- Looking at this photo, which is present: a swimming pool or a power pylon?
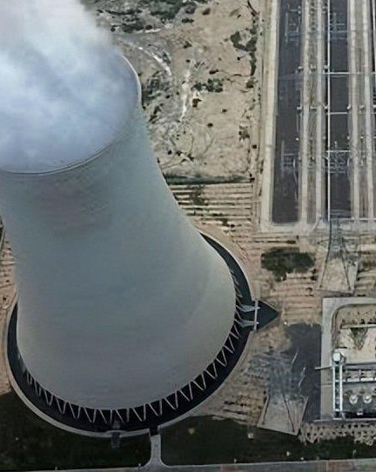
power pylon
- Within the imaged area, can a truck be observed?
No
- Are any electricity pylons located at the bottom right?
Yes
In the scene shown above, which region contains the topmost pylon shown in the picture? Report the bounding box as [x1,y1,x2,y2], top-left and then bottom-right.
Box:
[318,214,356,291]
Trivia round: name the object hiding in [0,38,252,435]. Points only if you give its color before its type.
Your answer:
gray cooling tower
